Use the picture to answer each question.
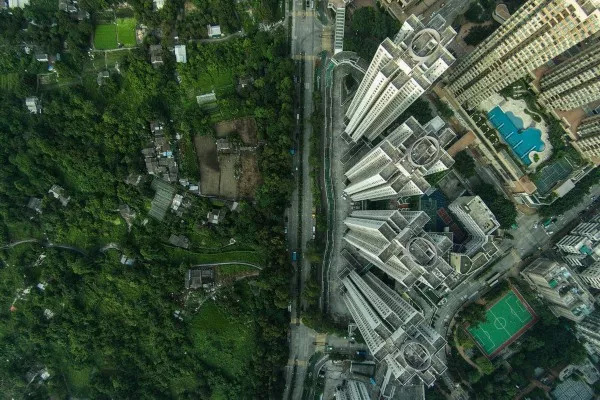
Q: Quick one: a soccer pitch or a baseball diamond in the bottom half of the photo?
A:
soccer pitch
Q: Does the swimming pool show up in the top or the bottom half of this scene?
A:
top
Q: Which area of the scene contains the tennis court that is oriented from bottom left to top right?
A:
right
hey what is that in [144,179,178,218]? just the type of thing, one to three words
house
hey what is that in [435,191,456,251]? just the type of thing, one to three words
basketball court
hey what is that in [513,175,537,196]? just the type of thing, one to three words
building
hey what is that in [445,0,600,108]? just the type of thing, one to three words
building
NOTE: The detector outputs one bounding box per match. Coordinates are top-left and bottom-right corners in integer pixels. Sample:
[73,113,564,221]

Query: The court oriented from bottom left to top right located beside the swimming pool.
[534,159,577,194]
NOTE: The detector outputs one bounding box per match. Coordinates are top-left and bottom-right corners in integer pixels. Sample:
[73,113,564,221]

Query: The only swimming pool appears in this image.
[485,97,553,173]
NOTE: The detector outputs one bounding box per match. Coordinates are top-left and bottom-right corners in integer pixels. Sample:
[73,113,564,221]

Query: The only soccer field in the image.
[467,289,540,359]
